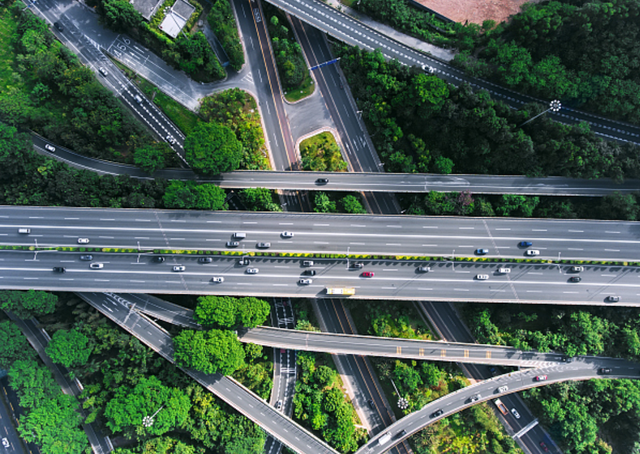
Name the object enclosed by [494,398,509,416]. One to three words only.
vehicle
